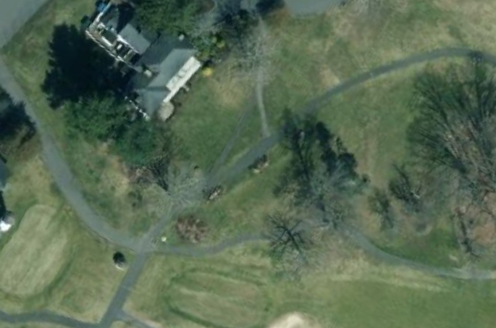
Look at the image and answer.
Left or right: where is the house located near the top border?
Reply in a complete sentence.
The house located near the top border is on the left side of the image.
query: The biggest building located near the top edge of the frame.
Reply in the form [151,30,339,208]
[79,2,204,126]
